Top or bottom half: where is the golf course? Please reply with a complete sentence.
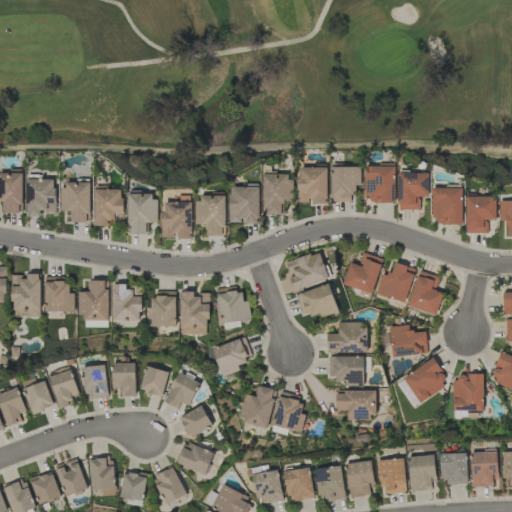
Seen from above, the golf course lies in the top half of the view.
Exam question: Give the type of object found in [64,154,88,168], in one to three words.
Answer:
swimming pool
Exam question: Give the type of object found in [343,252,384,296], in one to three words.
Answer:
house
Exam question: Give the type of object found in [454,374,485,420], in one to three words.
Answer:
house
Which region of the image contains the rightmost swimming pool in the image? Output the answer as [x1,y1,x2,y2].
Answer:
[490,398,504,418]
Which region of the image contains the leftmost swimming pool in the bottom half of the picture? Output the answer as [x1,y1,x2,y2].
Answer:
[21,341,42,354]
